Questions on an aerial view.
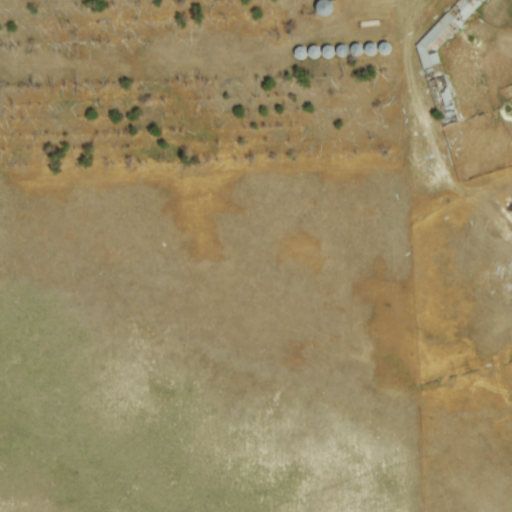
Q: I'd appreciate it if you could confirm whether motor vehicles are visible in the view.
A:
No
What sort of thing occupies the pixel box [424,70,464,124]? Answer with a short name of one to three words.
building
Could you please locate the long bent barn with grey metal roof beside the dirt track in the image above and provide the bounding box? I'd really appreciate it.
[416,3,466,69]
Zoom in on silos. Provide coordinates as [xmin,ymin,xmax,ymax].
[350,42,364,57]
[378,42,392,56]
[322,45,335,60]
[316,0,334,18]
[308,46,322,60]
[364,42,378,56]
[294,46,308,60]
[336,44,349,58]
